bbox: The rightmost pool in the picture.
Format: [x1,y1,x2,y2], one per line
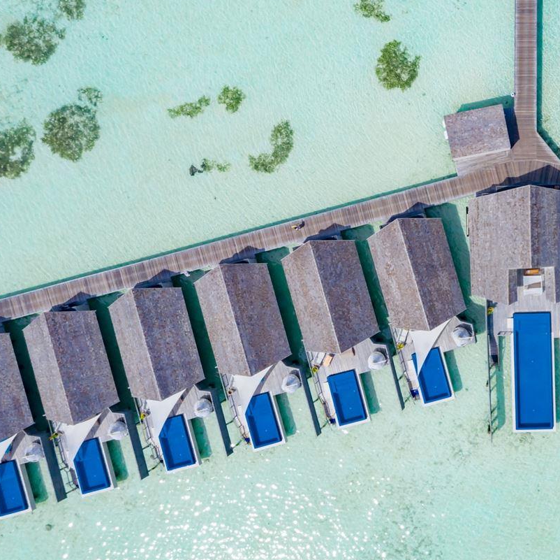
[508,311,556,432]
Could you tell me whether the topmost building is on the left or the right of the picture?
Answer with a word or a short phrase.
right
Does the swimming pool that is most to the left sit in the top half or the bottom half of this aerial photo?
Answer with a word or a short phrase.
bottom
